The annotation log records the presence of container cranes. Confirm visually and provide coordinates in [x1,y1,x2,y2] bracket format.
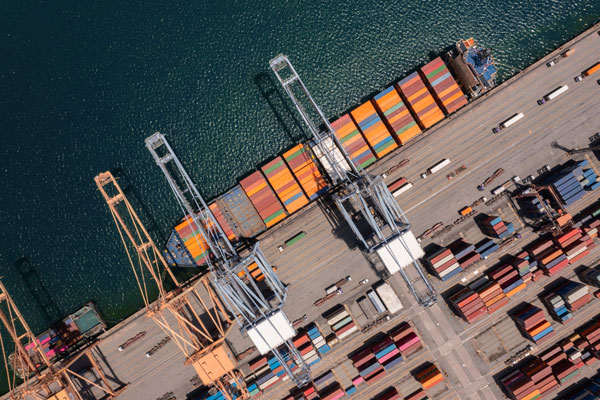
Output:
[90,169,256,400]
[268,52,440,307]
[513,176,578,236]
[141,131,313,387]
[0,281,135,400]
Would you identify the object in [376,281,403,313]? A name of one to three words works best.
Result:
shed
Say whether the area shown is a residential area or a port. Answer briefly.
port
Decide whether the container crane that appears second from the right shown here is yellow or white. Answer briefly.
white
